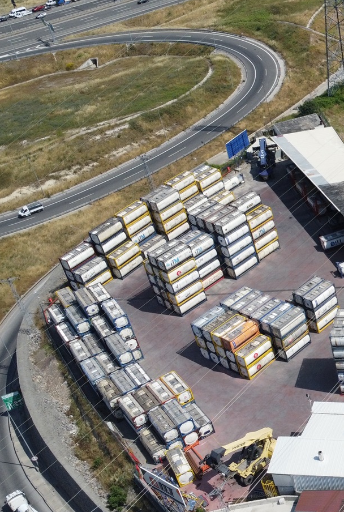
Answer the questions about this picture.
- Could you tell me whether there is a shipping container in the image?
Yes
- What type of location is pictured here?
industrial area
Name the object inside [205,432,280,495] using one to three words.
work vehicle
